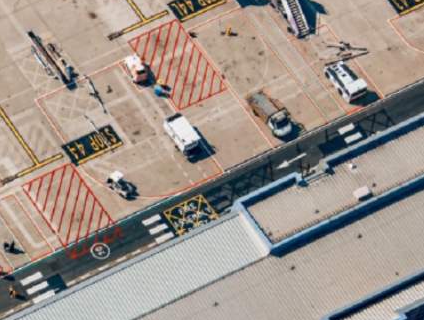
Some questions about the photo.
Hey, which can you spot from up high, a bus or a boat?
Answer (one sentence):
There is a bus in the scene.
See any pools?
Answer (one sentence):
No, this view has no pool in it.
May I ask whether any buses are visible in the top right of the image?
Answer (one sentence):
Yes, I can see a bus in the top right of the image.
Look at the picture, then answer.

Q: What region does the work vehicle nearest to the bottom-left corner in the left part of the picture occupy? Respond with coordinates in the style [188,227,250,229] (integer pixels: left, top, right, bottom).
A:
[107,170,135,197]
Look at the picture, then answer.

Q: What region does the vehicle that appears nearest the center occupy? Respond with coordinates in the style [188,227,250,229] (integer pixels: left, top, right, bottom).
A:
[161,118,204,160]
